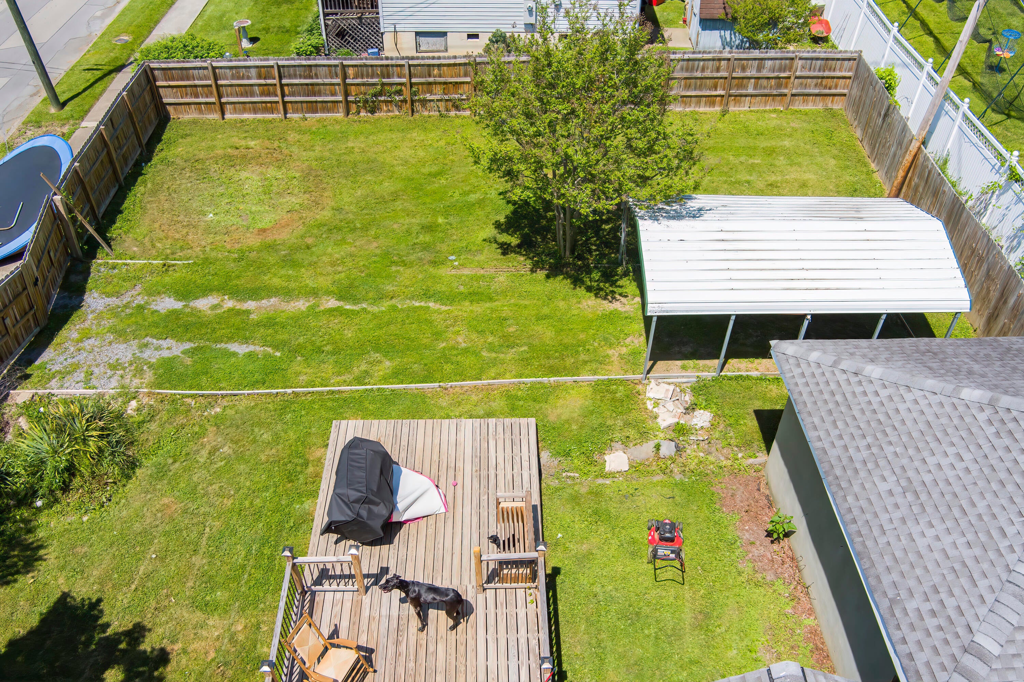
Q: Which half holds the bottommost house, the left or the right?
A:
right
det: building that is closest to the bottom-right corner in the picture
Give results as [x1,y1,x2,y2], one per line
[768,336,1024,682]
